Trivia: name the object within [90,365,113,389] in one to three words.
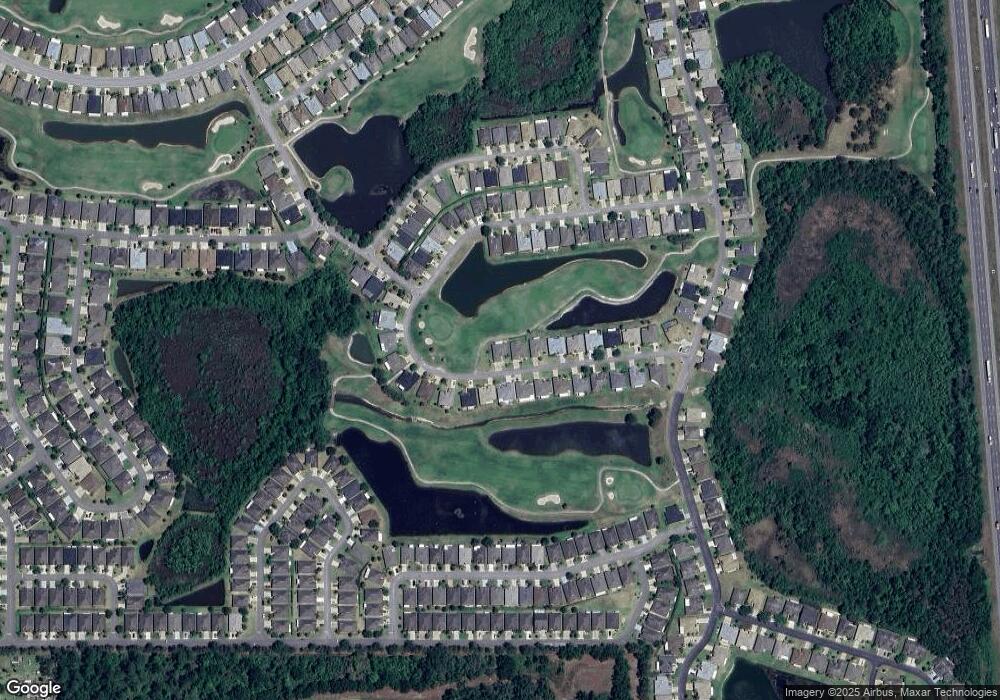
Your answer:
house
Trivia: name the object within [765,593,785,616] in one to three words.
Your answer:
house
